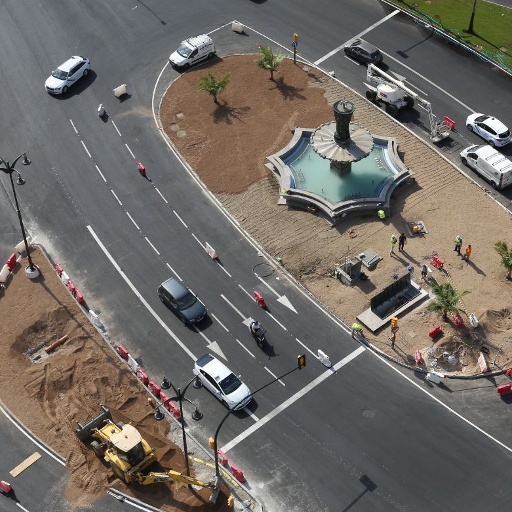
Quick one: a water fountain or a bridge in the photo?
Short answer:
water fountain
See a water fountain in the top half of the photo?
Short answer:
Yes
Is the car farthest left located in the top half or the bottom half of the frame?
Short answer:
top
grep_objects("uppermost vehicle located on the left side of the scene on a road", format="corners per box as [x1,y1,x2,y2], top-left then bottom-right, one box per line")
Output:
[168,31,218,70]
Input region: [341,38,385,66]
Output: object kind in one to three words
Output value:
car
